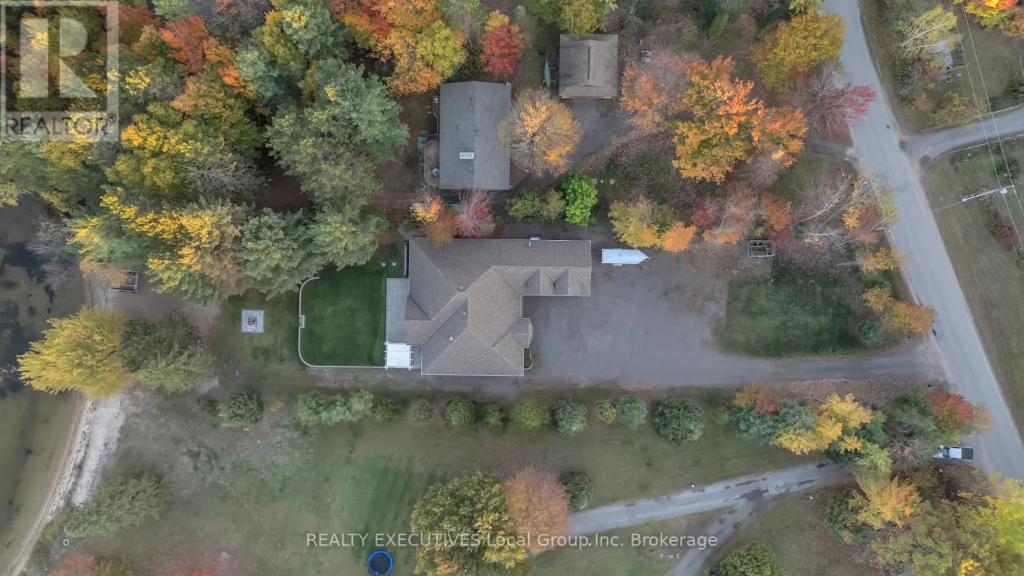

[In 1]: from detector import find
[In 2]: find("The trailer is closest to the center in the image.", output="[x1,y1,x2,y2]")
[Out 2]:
[600,248,652,265]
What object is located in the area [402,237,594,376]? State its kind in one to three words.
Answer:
house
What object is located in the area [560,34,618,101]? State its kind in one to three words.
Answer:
building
